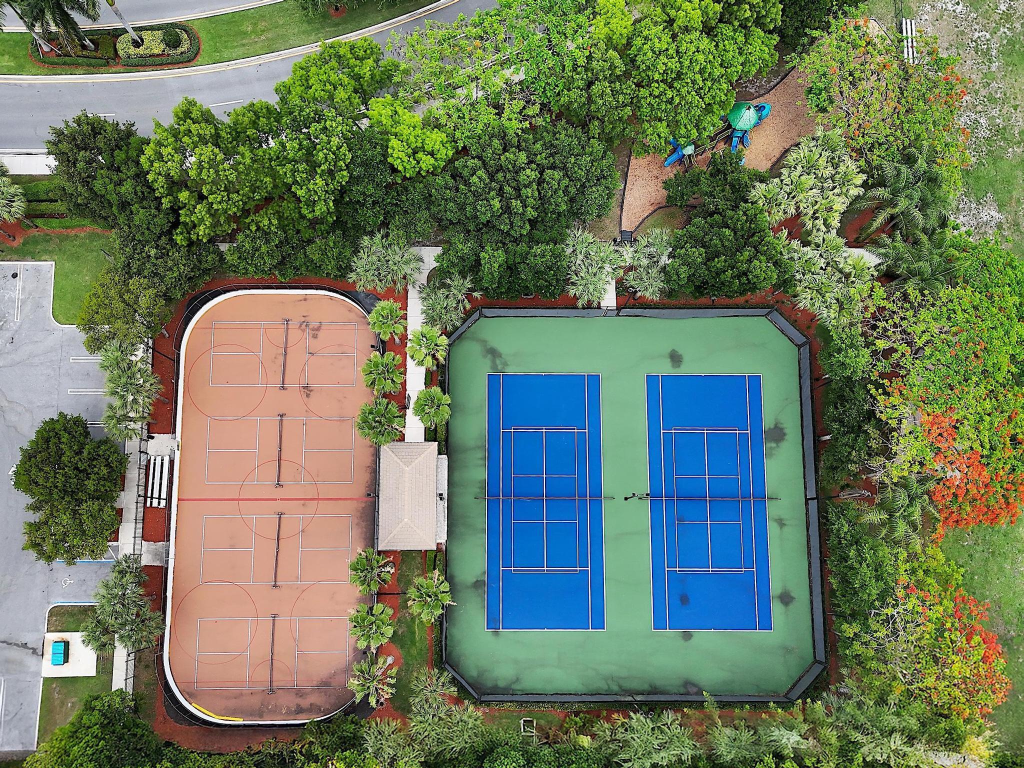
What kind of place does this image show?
sports ground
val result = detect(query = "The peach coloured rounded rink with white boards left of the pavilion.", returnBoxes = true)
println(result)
[151,283,380,733]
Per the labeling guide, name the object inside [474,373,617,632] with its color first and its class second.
blue tennis court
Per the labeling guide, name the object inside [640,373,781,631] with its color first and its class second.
blue tennis court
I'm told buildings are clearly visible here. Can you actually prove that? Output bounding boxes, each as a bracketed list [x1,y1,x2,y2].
[378,441,439,551]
